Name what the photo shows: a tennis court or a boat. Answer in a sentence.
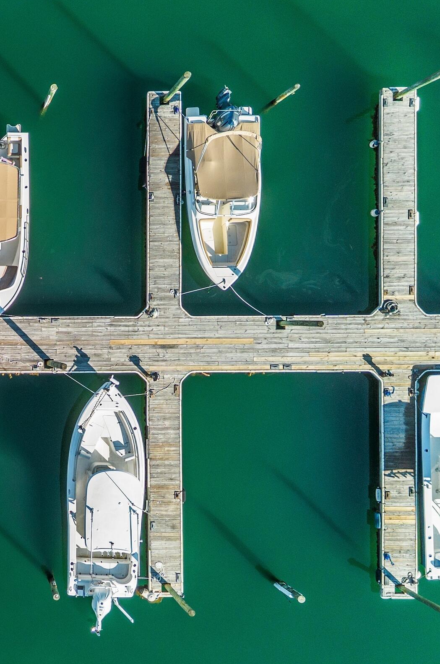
The one in the frame is a boat.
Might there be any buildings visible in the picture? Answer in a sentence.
No, the frame has no building in it.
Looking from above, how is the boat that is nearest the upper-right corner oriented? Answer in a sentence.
I'd say the boat that is nearest the upper-right corner is aligned from top to bottom in the picture.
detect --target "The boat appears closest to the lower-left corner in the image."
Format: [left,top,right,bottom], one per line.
[65,375,151,640]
